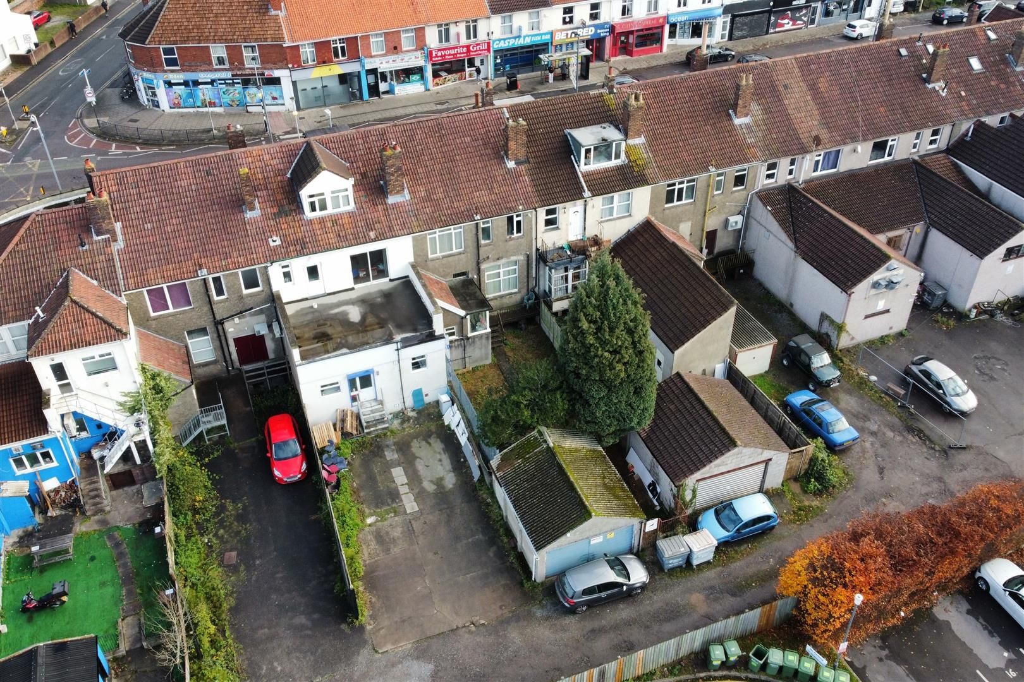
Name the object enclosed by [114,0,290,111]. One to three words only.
building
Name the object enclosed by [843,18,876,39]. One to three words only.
car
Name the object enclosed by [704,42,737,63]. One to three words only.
car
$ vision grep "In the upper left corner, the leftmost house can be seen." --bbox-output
[0,13,37,71]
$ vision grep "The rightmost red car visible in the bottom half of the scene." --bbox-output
[264,418,312,485]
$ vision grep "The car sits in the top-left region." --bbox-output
[21,9,51,28]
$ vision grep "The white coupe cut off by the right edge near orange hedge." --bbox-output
[979,560,1024,635]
